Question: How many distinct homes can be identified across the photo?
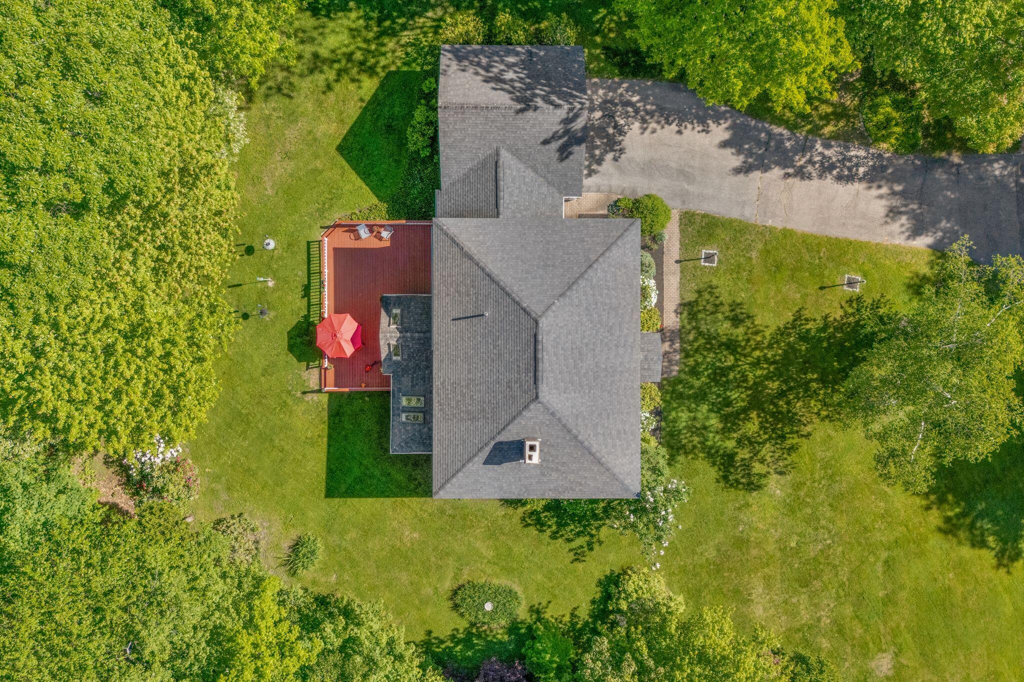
one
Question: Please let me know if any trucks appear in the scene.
No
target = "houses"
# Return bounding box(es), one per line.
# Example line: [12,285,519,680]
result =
[379,45,663,500]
